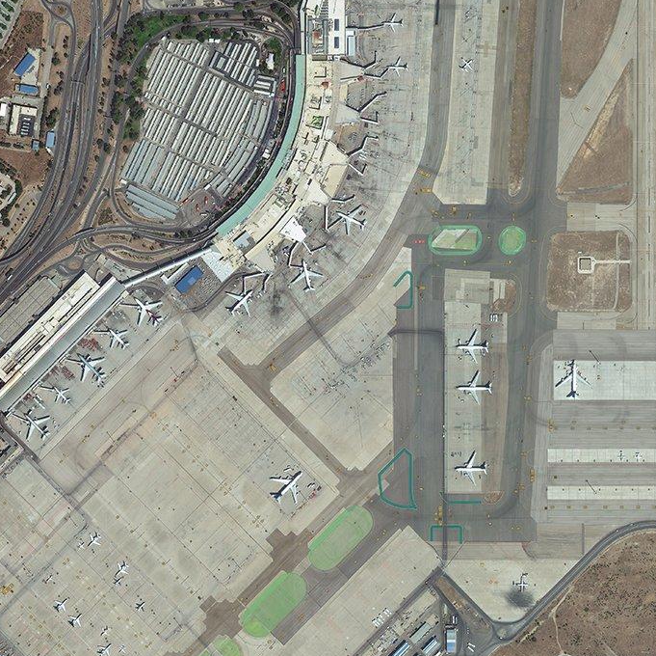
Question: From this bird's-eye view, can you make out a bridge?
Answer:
Yes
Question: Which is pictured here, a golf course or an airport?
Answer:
airport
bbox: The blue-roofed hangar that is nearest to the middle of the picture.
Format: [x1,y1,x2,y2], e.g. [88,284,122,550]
[175,266,202,293]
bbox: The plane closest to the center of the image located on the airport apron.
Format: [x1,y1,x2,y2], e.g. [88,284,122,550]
[291,261,325,293]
